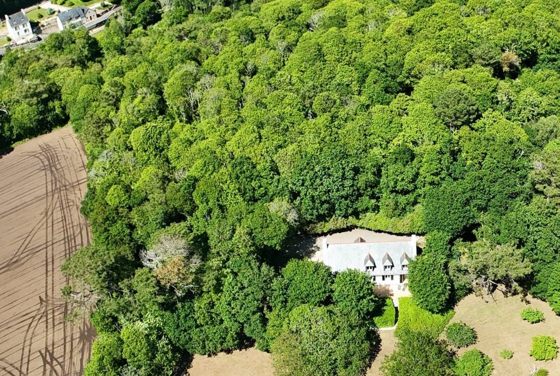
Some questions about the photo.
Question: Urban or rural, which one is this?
rural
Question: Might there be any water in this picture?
No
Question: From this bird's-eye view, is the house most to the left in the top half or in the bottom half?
top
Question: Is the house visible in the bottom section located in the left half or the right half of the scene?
right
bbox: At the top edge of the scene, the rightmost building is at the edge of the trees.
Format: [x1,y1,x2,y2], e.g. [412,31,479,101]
[58,4,109,34]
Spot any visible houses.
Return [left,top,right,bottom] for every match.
[58,4,109,34]
[3,6,46,50]
[323,232,417,285]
